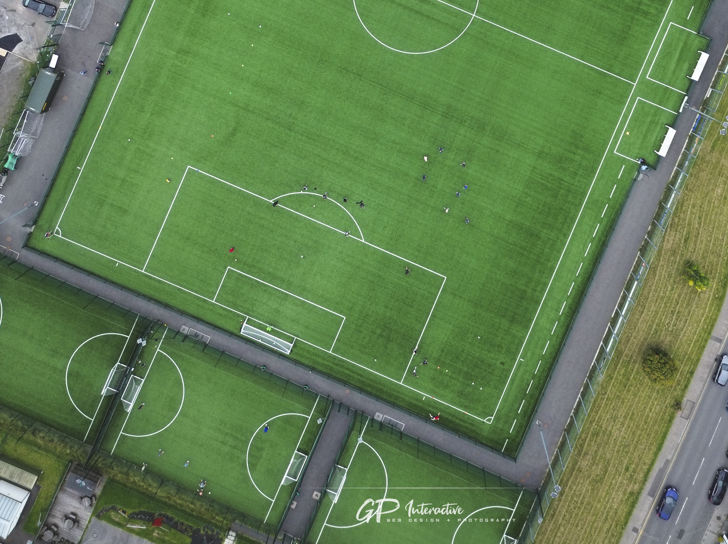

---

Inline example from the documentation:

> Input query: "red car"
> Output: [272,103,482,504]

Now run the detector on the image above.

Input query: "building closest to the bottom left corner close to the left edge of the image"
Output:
[0,480,31,543]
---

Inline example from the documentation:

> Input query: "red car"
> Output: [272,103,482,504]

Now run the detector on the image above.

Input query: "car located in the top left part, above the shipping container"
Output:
[22,0,57,17]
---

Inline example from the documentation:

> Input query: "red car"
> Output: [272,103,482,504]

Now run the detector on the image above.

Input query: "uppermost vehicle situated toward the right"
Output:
[713,353,728,387]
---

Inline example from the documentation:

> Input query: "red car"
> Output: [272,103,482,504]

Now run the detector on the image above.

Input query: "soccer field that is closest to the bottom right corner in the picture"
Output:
[304,419,533,544]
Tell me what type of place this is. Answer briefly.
sports ground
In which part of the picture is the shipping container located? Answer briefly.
top left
